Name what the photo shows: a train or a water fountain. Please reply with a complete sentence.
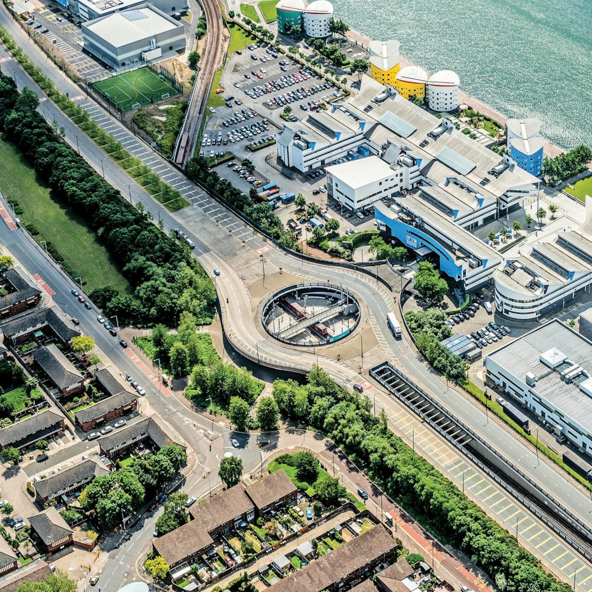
It is a train that can be seen here.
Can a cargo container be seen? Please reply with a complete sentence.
Yes, a cargo container appears in the view.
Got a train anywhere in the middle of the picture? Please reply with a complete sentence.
Yes, a train appears in the middle of the picture.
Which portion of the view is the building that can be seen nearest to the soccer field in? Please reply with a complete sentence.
The building that can be seen nearest to the soccer field sits in the top left section of the image.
